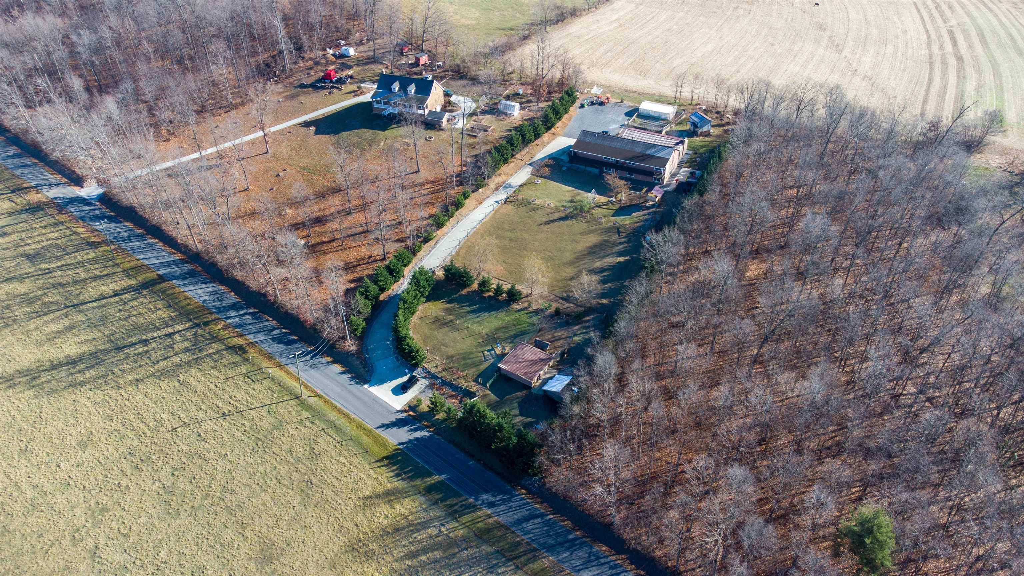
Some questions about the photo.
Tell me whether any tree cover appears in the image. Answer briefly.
Yes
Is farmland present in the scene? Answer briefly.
Yes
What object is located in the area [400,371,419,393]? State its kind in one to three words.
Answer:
car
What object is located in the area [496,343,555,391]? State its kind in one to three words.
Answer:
barn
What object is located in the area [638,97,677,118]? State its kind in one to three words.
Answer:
shed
